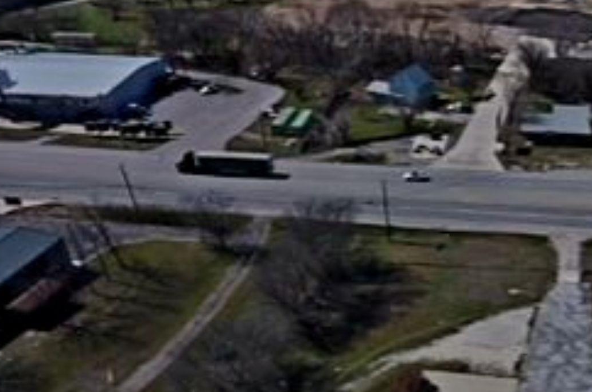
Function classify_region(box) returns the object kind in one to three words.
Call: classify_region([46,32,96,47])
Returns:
shed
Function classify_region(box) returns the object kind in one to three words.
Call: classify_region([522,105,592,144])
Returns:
house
